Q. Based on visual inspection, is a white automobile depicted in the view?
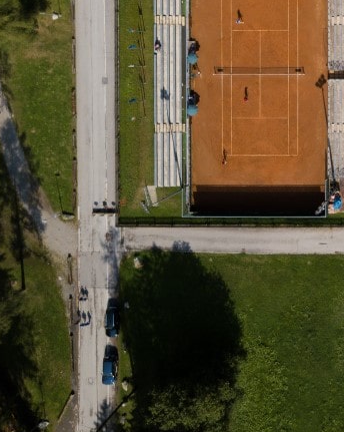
No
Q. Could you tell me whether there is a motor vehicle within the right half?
No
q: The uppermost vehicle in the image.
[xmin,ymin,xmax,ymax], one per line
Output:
[103,304,121,337]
